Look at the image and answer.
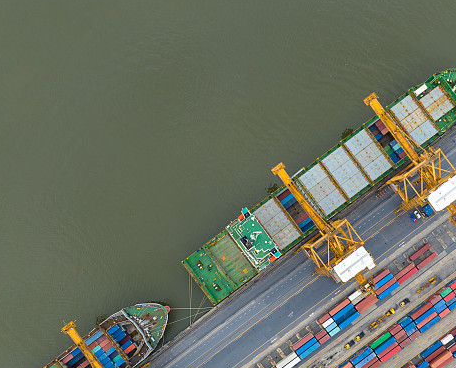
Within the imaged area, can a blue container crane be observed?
No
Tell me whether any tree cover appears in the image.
No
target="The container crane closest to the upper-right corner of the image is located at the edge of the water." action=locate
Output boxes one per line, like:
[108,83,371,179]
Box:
[364,88,456,230]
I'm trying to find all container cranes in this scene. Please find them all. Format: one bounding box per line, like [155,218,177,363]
[364,88,456,230]
[56,316,108,368]
[268,159,379,302]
